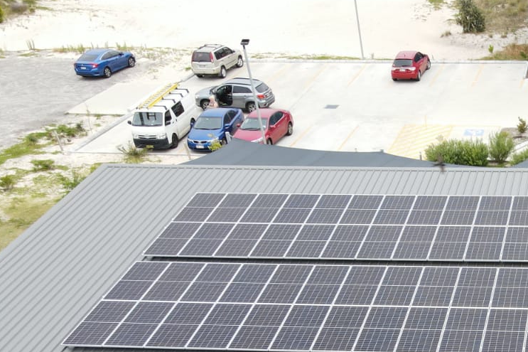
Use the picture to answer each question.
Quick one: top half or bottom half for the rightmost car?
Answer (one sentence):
The rightmost car sits in the top half of the picture.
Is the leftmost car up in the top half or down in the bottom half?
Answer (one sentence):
The leftmost car is in the top half of the image.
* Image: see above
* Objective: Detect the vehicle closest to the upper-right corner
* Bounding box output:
[387,48,431,81]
